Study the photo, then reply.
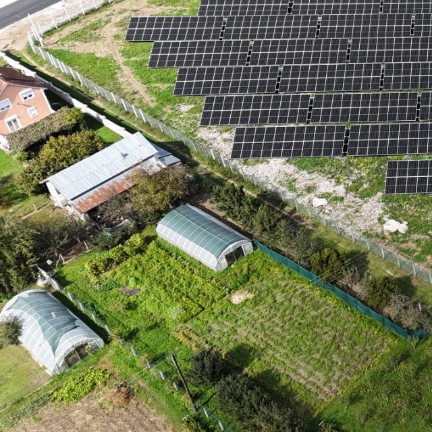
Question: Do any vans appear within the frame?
No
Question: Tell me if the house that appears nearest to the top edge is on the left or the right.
left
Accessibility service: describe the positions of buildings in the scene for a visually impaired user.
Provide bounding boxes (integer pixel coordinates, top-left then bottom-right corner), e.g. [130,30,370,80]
[38,131,191,227]
[0,280,103,376]
[0,50,55,133]
[154,195,253,272]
